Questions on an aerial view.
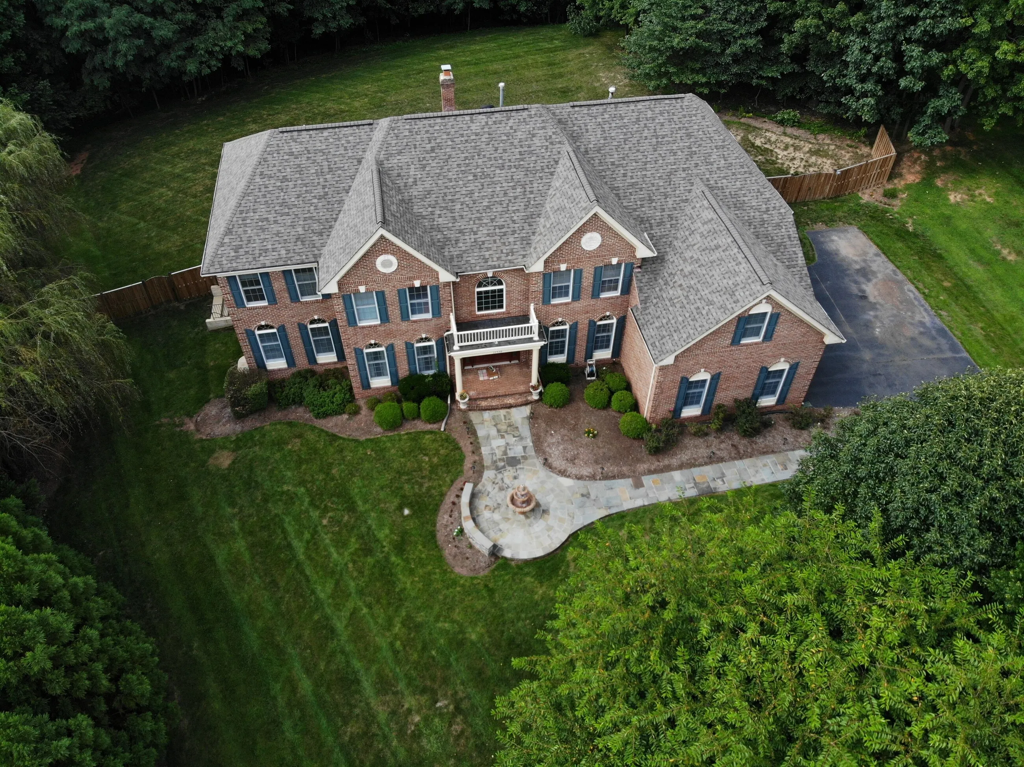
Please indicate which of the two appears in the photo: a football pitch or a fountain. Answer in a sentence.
There is a fountain in the scene.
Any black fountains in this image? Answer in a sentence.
No, no black fountain can be seen from above.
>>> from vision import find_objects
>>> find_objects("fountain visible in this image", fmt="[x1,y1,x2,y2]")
[507,485,537,516]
